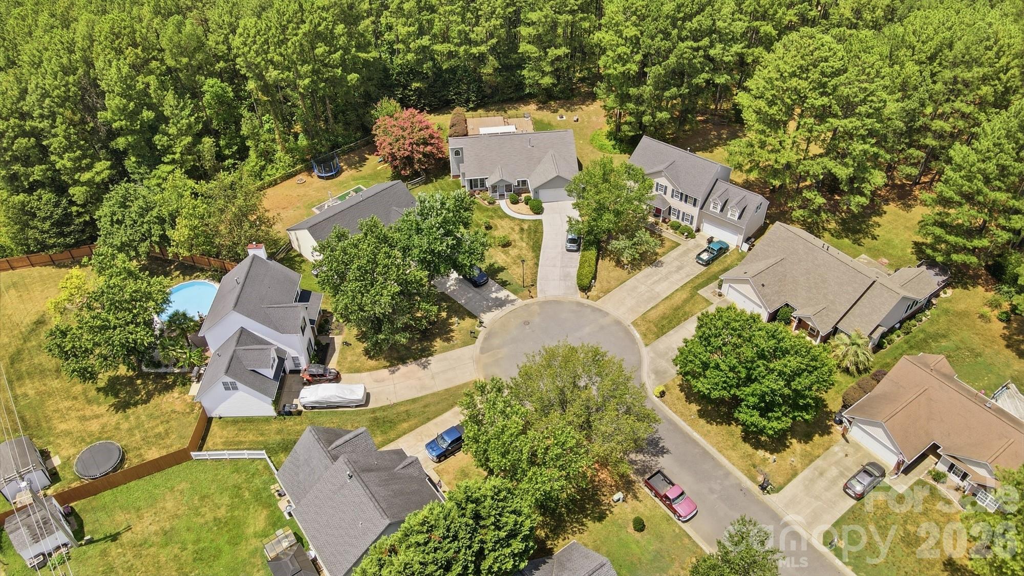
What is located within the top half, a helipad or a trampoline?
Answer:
trampoline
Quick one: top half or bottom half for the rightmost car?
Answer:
bottom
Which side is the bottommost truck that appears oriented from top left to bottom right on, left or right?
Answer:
right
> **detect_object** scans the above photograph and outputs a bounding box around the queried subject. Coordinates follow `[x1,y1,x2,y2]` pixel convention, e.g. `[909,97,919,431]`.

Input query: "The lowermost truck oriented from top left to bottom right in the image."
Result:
[648,469,702,521]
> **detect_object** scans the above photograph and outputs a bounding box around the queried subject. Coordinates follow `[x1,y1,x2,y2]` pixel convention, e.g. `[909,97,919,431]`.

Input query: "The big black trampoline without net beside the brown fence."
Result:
[74,441,127,484]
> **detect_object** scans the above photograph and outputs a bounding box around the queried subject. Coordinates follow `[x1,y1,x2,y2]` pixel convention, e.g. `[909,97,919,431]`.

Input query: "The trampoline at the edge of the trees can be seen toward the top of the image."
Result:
[308,150,341,181]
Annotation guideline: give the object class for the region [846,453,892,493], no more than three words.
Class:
car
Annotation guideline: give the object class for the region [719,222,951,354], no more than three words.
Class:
house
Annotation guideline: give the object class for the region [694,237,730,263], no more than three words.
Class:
truck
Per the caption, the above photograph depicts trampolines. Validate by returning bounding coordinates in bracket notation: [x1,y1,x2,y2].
[74,441,127,484]
[308,150,341,181]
